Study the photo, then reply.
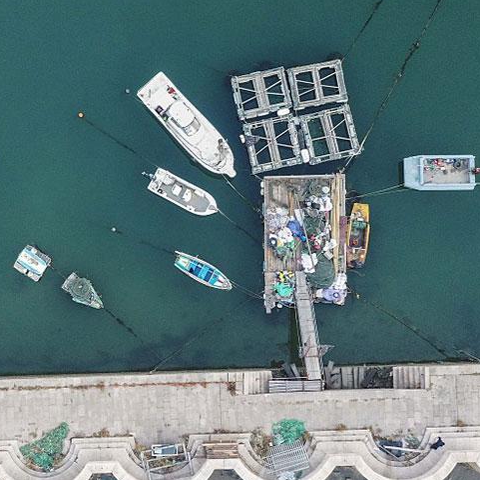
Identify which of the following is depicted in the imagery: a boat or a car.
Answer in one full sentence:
The one in the frame is a boat.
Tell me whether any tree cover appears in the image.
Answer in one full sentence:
No, there is no tree cover in the image.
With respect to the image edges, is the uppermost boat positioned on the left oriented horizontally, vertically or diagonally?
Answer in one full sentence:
The uppermost boat positioned on the left is laid out diagonally.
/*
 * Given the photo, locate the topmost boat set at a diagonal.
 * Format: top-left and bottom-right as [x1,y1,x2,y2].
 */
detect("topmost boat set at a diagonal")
[138,69,238,175]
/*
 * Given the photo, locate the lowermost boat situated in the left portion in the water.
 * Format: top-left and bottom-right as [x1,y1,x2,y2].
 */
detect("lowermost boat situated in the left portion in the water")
[61,271,103,309]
